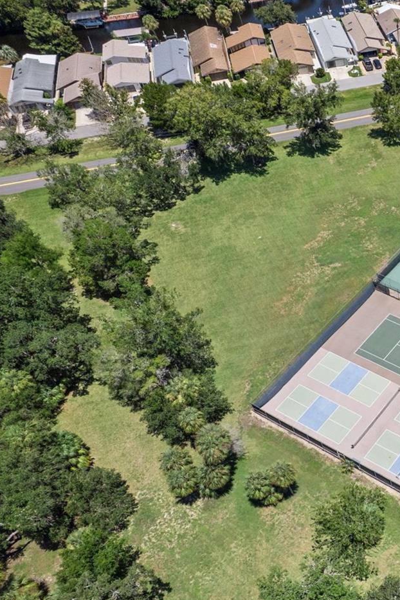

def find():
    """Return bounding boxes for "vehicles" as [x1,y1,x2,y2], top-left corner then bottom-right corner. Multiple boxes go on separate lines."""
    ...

[372,56,383,67]
[362,55,373,68]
